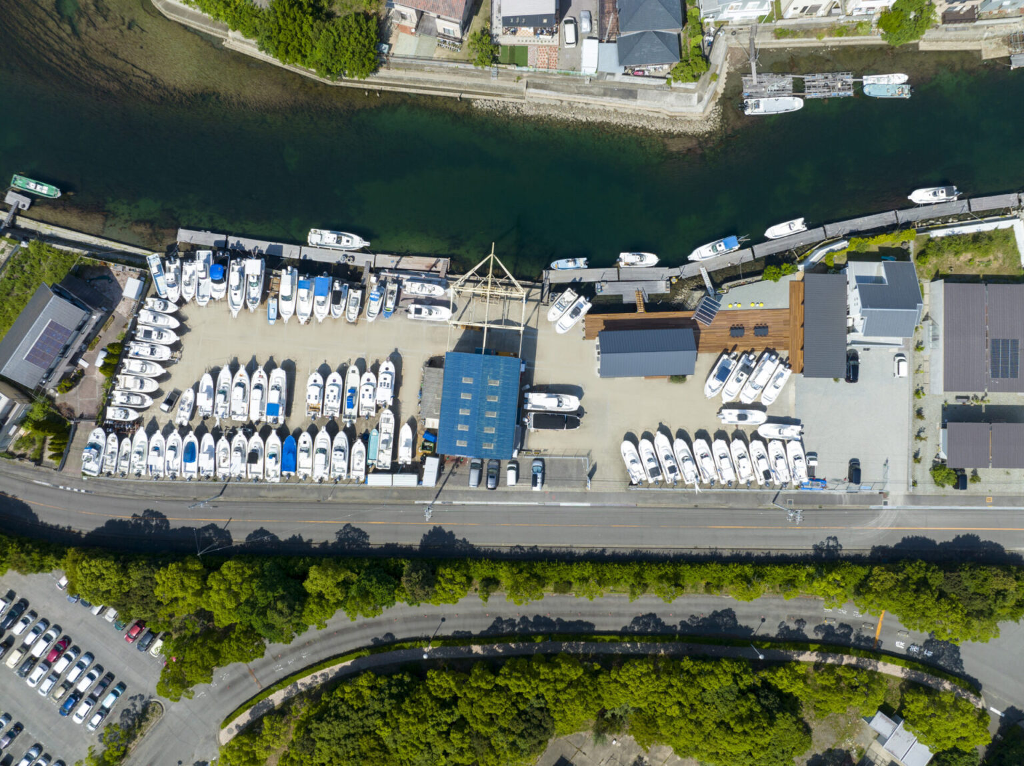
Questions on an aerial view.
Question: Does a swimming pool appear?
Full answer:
No, the scene contains no swimming pool.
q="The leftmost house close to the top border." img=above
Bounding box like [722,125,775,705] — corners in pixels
[392,0,471,39]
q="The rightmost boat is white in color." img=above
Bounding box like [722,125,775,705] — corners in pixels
[909,185,963,203]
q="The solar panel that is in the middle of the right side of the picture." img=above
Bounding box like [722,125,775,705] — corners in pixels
[991,338,1019,378]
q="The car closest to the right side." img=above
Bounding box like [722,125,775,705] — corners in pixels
[951,468,968,494]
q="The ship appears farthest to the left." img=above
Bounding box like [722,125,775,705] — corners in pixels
[11,175,60,197]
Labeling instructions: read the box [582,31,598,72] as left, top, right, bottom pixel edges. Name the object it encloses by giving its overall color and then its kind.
white vehicle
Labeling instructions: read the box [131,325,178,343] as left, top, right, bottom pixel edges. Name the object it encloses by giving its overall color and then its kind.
white boat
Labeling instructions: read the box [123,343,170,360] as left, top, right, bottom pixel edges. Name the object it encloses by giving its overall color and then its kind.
white boat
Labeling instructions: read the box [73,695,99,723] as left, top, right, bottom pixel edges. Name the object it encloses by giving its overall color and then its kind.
white car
